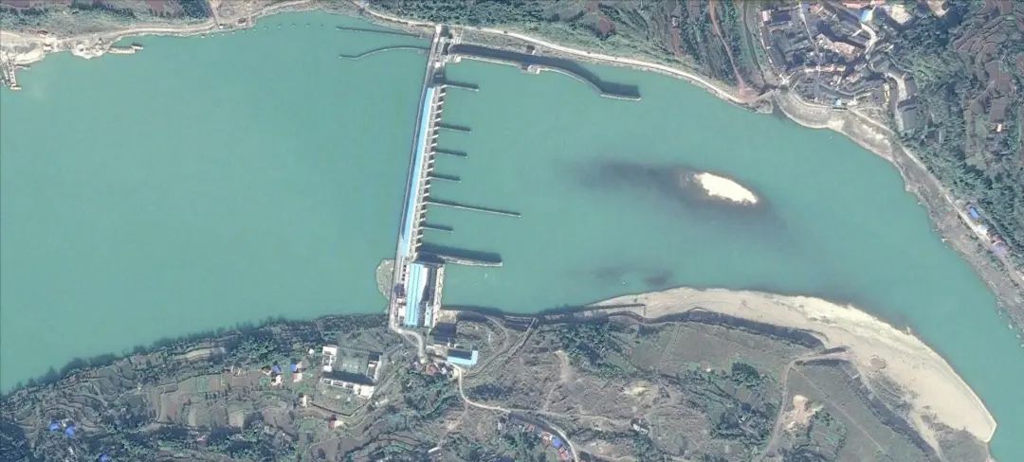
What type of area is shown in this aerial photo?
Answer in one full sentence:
It's a port.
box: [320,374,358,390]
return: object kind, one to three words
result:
building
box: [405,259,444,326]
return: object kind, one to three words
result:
building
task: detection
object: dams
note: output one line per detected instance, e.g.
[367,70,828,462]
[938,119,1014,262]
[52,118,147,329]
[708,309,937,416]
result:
[389,16,521,327]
